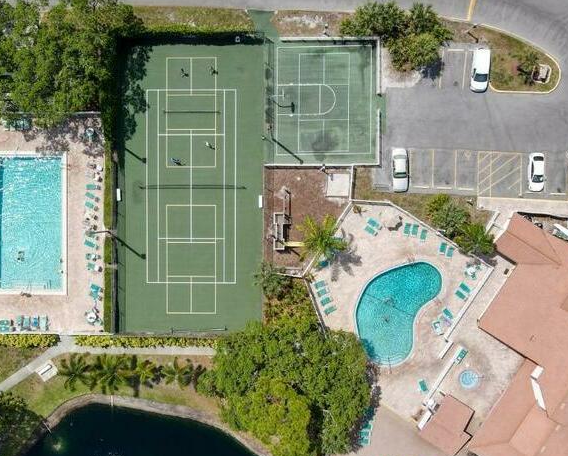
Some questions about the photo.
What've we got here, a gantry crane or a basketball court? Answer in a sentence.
I can see a basketball court in this picture.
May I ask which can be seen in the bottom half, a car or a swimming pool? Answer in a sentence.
Looking in the bottom half, you will find a swimming pool.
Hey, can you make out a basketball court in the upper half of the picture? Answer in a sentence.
Yes, the scene does show a basketball court in the upper half of the picture.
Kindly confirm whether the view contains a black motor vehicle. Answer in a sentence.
No, this view has no black motor vehicle in it.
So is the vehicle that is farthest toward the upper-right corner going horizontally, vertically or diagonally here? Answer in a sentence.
In this picture, the vehicle that is farthest toward the upper-right corner lies vertically.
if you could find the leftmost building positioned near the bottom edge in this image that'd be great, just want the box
[421,394,474,454]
